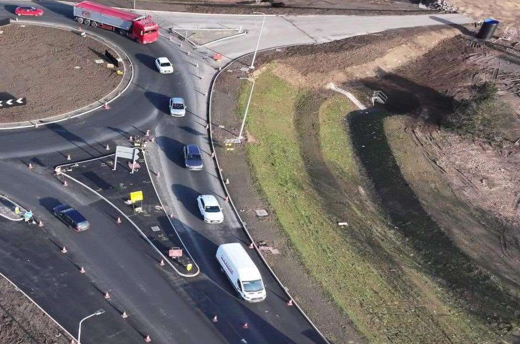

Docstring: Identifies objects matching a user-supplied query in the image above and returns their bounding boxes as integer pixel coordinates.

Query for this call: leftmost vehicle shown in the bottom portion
[52,200,93,231]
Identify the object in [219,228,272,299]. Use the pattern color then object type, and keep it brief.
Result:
white van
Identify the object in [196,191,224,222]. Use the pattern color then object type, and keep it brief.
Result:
white car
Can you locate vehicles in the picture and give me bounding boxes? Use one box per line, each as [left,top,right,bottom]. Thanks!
[155,54,172,71]
[75,0,174,41]
[196,191,224,222]
[183,141,203,168]
[170,93,186,114]
[219,228,272,299]
[15,3,43,17]
[52,200,93,231]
